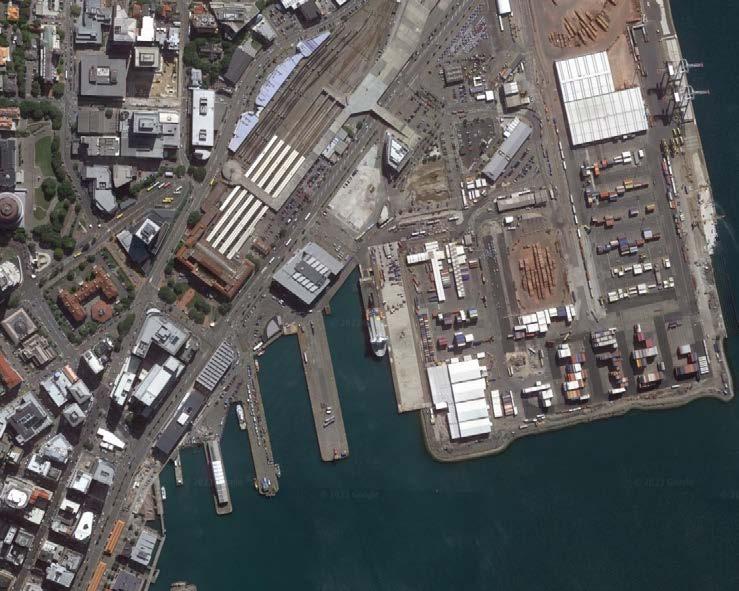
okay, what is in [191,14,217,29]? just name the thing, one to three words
building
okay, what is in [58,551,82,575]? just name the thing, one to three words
building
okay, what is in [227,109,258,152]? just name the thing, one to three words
shed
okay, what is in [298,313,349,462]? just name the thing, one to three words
pier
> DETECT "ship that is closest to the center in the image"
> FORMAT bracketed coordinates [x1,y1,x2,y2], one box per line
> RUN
[359,278,386,357]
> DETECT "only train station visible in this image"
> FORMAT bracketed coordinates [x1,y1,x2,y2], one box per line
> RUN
[174,203,254,300]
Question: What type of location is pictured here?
port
